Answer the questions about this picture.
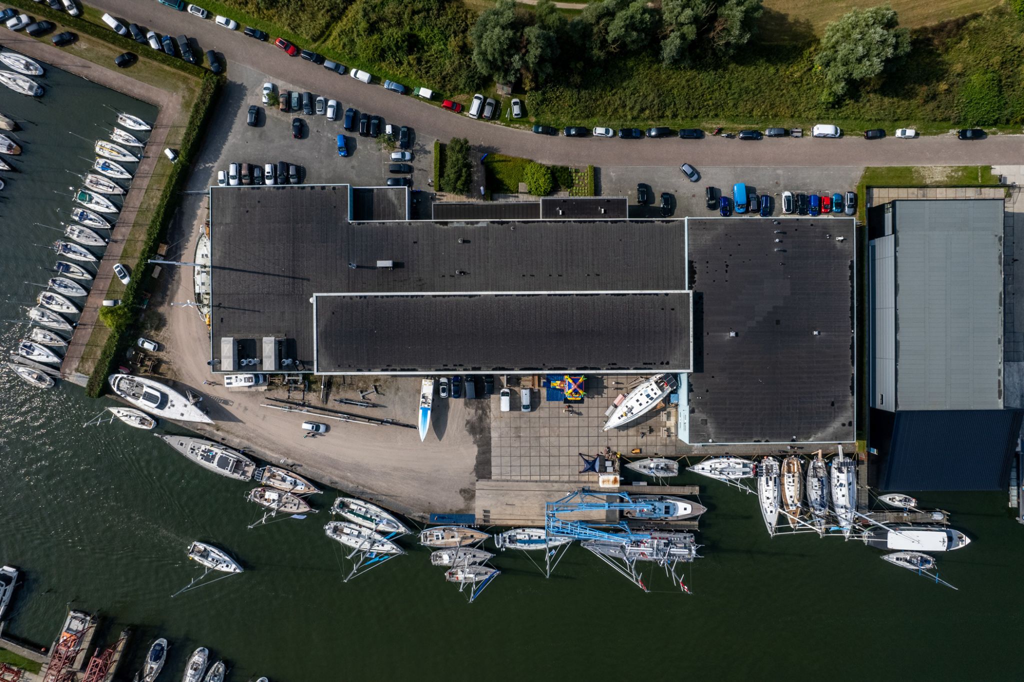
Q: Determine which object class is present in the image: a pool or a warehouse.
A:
warehouse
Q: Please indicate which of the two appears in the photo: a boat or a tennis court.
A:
boat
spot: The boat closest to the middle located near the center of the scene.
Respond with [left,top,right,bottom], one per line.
[419,377,434,441]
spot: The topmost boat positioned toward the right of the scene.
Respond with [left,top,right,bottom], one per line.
[602,373,681,432]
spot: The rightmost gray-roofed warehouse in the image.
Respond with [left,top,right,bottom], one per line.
[873,199,1006,436]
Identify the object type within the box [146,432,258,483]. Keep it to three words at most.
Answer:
boat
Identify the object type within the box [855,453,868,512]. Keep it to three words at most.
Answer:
pier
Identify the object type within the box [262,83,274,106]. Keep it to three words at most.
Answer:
vehicle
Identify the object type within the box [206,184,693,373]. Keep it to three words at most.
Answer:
building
